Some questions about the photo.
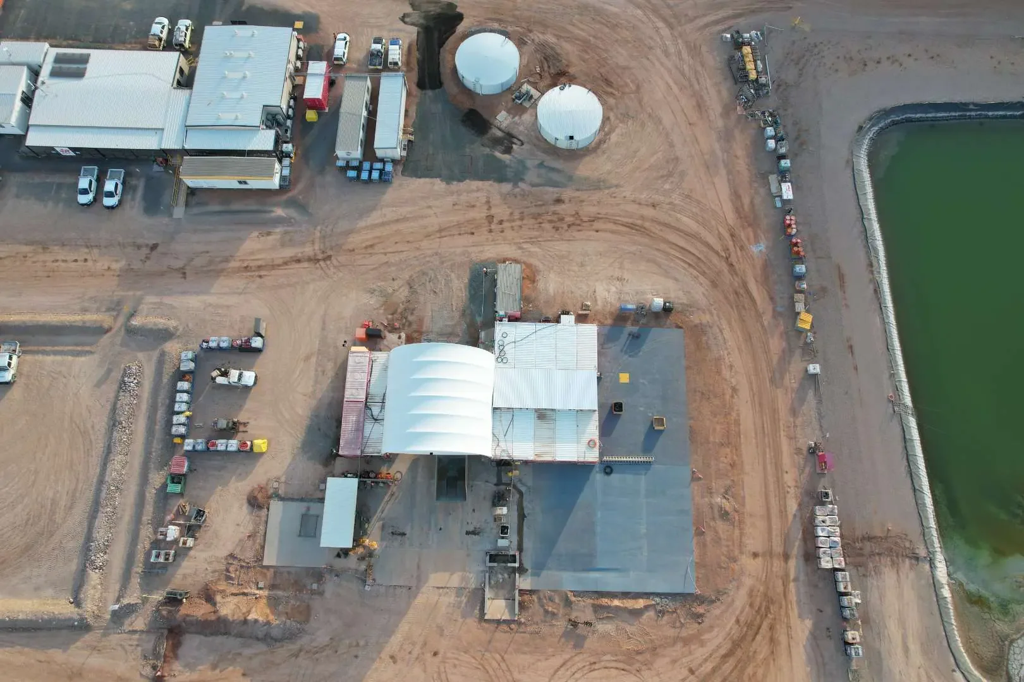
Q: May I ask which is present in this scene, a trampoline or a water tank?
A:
water tank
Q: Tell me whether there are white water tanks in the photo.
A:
Yes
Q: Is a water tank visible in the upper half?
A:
Yes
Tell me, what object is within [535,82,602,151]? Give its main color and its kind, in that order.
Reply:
white water tank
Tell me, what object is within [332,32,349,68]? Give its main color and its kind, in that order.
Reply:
white car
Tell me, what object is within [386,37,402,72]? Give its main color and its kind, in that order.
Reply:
white car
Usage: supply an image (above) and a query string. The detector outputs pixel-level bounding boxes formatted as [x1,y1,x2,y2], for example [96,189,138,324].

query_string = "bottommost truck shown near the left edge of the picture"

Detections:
[0,337,22,389]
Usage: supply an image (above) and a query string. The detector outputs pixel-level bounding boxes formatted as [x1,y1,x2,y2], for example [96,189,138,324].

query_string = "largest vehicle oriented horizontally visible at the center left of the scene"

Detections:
[208,368,260,387]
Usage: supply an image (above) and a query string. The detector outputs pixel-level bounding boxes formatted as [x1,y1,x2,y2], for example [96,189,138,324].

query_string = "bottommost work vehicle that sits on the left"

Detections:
[209,417,249,434]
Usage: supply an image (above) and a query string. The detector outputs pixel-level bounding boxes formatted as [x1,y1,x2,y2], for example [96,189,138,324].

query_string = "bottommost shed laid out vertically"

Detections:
[322,478,361,548]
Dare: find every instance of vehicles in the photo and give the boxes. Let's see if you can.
[367,35,384,73]
[171,17,193,53]
[332,32,349,68]
[74,163,98,208]
[209,417,249,434]
[386,37,402,72]
[146,15,171,51]
[101,166,124,211]
[208,368,260,387]
[0,337,22,389]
